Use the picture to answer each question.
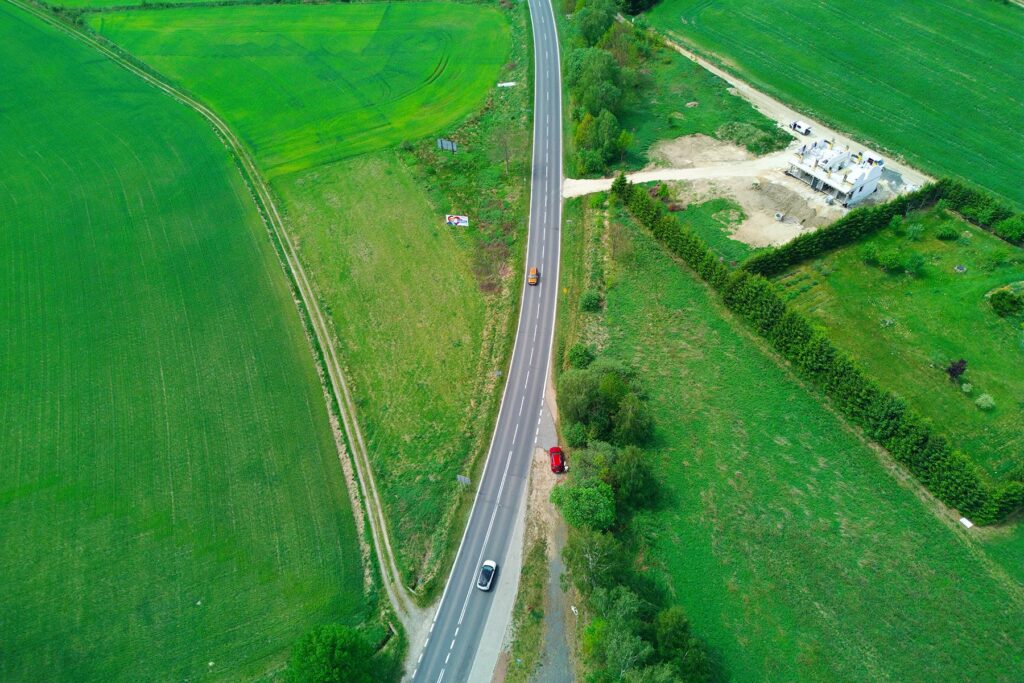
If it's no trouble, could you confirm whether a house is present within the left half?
No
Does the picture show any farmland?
Yes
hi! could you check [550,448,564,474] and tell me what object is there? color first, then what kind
red car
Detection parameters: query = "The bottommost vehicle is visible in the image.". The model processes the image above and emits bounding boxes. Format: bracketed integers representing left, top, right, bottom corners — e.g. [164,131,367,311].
[477,561,496,592]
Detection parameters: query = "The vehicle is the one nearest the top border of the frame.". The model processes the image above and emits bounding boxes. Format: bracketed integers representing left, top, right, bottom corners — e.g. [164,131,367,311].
[790,121,812,135]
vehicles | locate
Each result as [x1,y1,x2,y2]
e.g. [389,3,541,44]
[527,267,538,284]
[477,561,496,592]
[550,448,564,474]
[790,121,812,135]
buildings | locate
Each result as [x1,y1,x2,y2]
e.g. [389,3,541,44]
[783,138,882,206]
